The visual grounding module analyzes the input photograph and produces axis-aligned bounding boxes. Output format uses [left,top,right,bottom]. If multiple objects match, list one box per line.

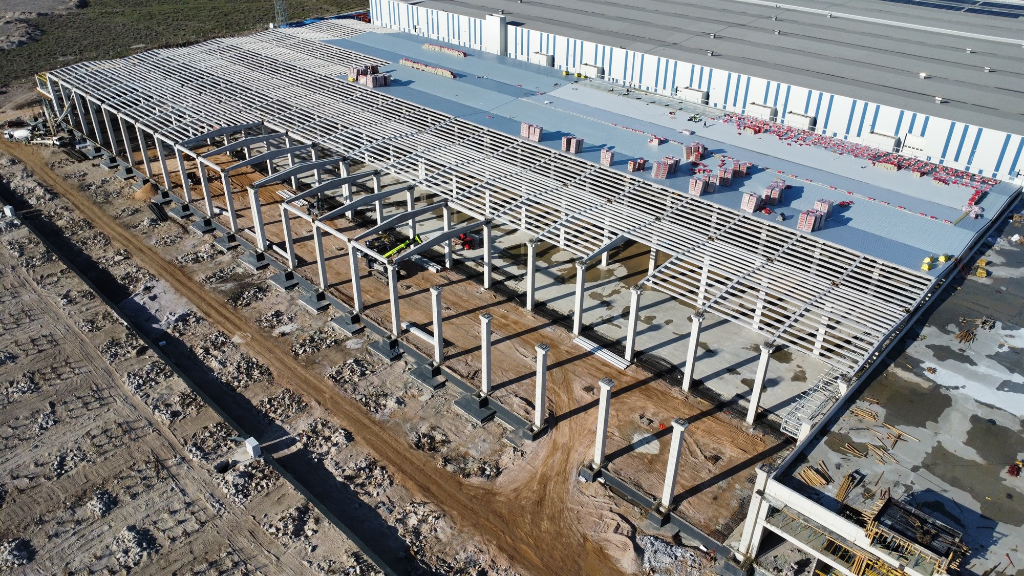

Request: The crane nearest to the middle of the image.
[369,229,430,285]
